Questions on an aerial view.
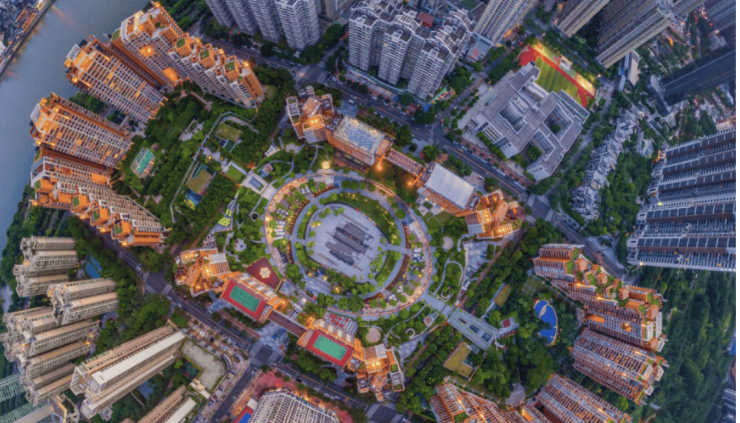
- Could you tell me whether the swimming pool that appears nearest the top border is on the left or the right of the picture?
left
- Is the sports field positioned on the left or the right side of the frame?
right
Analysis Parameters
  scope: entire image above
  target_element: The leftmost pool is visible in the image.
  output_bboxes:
[80,254,108,280]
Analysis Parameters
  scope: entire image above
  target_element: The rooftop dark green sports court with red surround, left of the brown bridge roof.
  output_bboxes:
[223,281,266,317]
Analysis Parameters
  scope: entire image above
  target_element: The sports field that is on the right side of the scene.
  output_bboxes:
[519,42,599,111]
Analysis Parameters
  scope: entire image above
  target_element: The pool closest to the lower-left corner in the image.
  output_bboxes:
[139,377,154,399]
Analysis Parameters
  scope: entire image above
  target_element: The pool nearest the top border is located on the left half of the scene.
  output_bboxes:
[129,148,157,179]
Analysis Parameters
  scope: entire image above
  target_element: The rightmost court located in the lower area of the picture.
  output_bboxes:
[309,331,353,366]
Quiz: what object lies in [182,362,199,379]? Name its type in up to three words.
swimming pool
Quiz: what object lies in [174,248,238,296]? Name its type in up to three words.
building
